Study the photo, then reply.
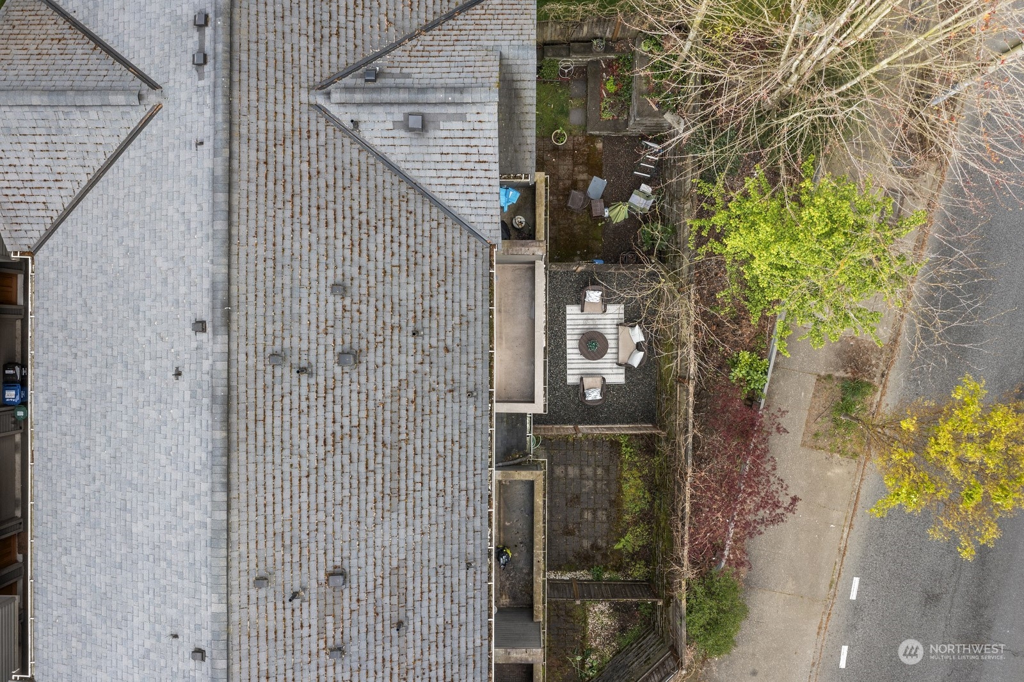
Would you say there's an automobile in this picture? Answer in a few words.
No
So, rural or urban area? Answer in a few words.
urban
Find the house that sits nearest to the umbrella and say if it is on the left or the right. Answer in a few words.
left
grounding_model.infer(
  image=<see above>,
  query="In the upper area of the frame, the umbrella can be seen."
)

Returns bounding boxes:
[604,202,626,223]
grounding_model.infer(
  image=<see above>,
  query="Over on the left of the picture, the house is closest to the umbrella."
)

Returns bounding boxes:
[0,0,548,682]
